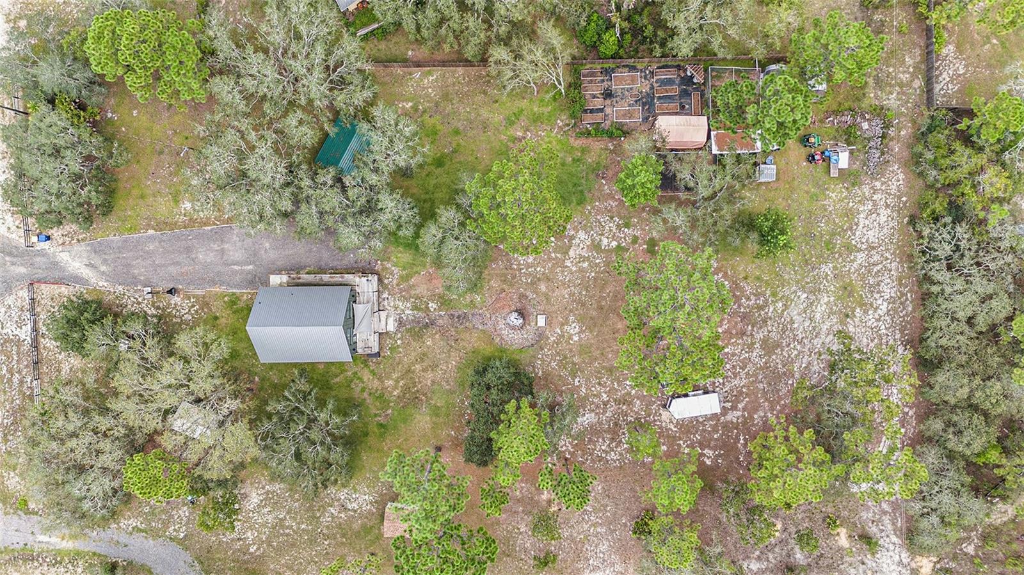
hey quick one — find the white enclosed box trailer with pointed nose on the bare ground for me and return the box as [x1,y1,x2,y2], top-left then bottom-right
[660,391,721,419]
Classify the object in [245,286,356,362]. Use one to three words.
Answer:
house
